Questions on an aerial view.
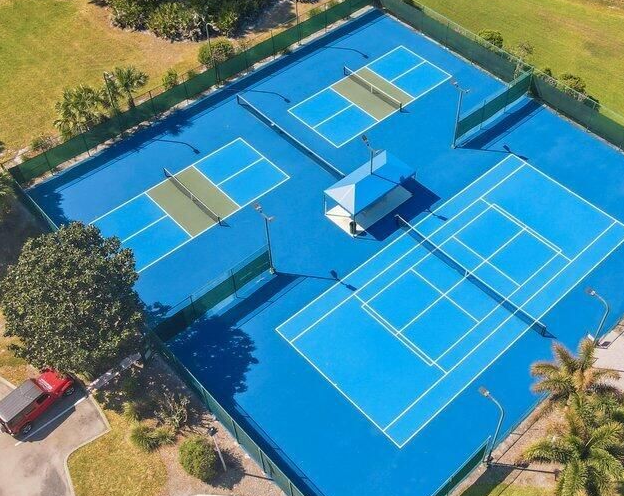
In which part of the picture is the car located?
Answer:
bottom left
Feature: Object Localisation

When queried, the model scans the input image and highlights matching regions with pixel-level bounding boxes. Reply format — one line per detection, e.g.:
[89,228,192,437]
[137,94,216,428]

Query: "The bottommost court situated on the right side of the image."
[276,154,624,447]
